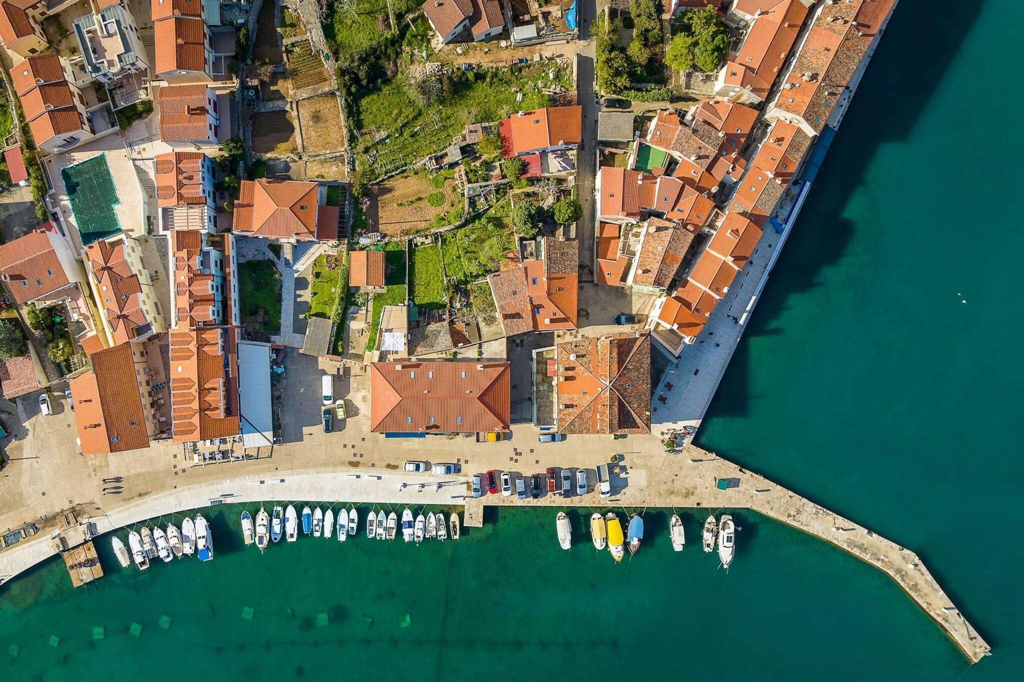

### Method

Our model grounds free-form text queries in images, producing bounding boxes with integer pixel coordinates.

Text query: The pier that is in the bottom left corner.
[64,540,106,588]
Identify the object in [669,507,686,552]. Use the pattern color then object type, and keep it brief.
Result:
white boat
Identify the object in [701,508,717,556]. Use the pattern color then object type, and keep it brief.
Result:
white boat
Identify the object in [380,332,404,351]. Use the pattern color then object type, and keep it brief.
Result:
white tent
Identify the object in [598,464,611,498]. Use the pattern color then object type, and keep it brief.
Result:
white vehicle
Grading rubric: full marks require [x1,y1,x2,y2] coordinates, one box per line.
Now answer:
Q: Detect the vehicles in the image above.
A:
[477,432,505,443]
[598,464,611,498]
[561,467,571,495]
[430,464,456,475]
[12,176,34,186]
[485,471,498,495]
[576,469,587,495]
[321,407,334,433]
[545,467,556,492]
[64,388,74,412]
[501,472,513,497]
[614,313,636,325]
[471,473,482,497]
[403,461,426,473]
[515,476,527,499]
[321,375,334,404]
[538,432,562,443]
[38,392,54,417]
[530,474,542,499]
[335,398,347,421]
